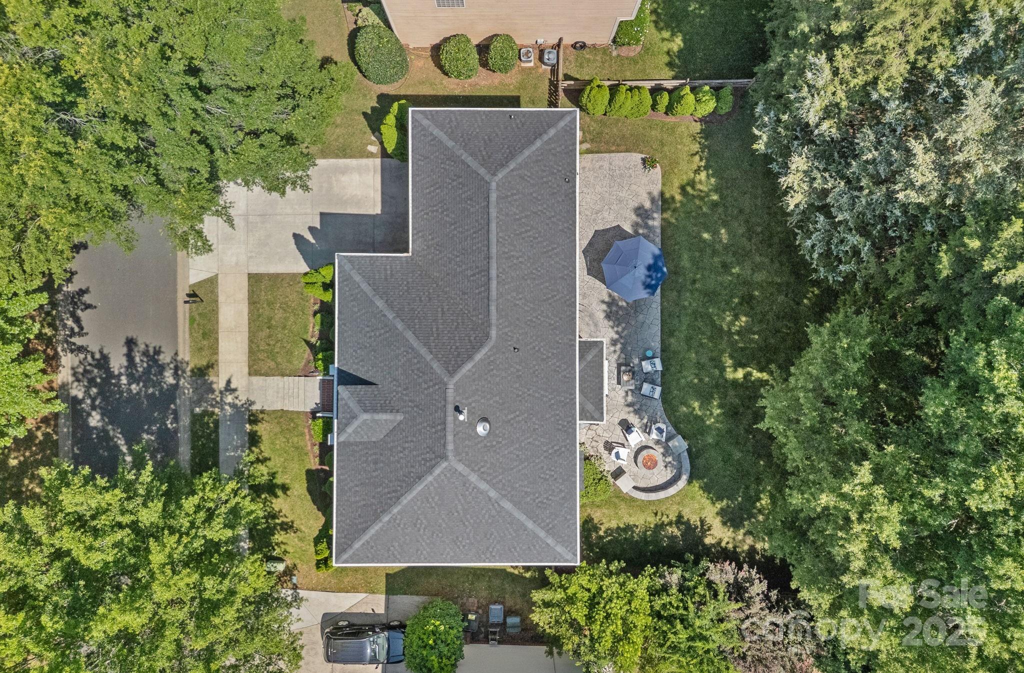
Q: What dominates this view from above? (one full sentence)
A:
The bulk of the photo consists of trees.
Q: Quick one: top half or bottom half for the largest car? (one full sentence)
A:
It is in the bottom half that the largest car appears.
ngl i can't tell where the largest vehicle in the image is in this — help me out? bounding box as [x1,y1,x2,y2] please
[321,620,405,671]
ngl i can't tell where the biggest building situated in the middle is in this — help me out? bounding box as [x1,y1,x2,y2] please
[329,108,609,566]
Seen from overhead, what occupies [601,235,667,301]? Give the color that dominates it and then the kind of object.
blue umbrella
